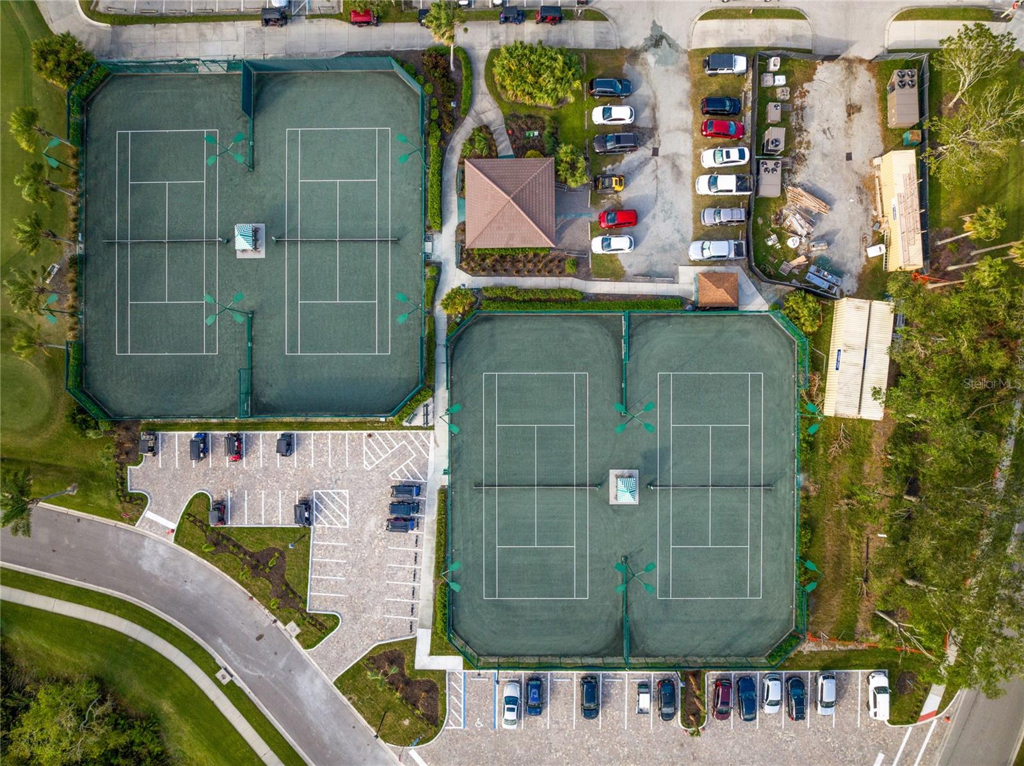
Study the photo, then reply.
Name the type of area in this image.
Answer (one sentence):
This image shows a sports ground.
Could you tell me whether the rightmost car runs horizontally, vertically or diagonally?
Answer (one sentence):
Seen from above, the rightmost car lies vertically.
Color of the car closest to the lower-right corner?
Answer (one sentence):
The car closest to the lower-right corner looks white in the image.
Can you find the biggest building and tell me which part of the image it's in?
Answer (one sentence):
Look in the top portion of the view to spot the biggest building.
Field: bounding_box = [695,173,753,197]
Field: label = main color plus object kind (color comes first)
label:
white truck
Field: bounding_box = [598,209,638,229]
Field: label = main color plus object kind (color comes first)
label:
red car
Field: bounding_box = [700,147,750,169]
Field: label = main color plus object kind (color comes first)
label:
white car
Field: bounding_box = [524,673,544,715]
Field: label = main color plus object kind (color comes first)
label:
blue car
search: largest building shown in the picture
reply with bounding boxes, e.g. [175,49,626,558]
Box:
[464,157,557,252]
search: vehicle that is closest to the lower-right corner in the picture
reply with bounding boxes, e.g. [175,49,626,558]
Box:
[865,670,892,724]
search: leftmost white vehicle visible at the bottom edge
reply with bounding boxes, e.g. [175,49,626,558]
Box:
[502,679,522,728]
